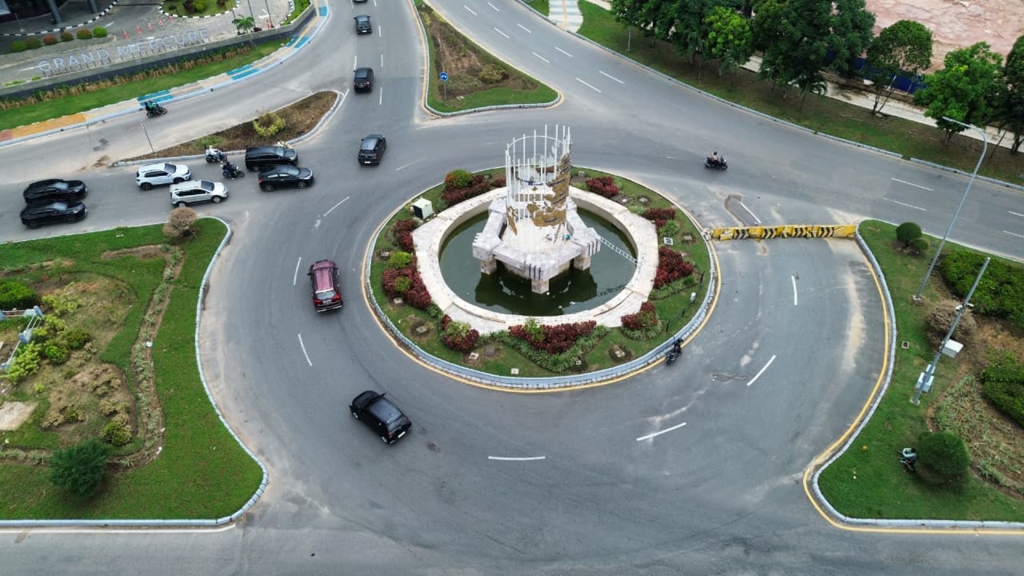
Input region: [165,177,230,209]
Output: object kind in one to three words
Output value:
car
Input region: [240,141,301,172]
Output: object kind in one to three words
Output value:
van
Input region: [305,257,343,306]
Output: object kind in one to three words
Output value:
car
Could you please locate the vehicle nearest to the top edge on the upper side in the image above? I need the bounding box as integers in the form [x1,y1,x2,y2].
[353,12,372,29]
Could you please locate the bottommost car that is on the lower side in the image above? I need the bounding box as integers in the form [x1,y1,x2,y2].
[349,388,415,445]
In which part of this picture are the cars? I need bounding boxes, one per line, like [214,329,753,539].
[16,198,85,229]
[305,257,343,306]
[255,165,313,193]
[358,131,389,160]
[351,63,373,87]
[130,160,190,190]
[20,175,86,202]
[165,177,230,209]
[353,12,372,29]
[349,388,415,445]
